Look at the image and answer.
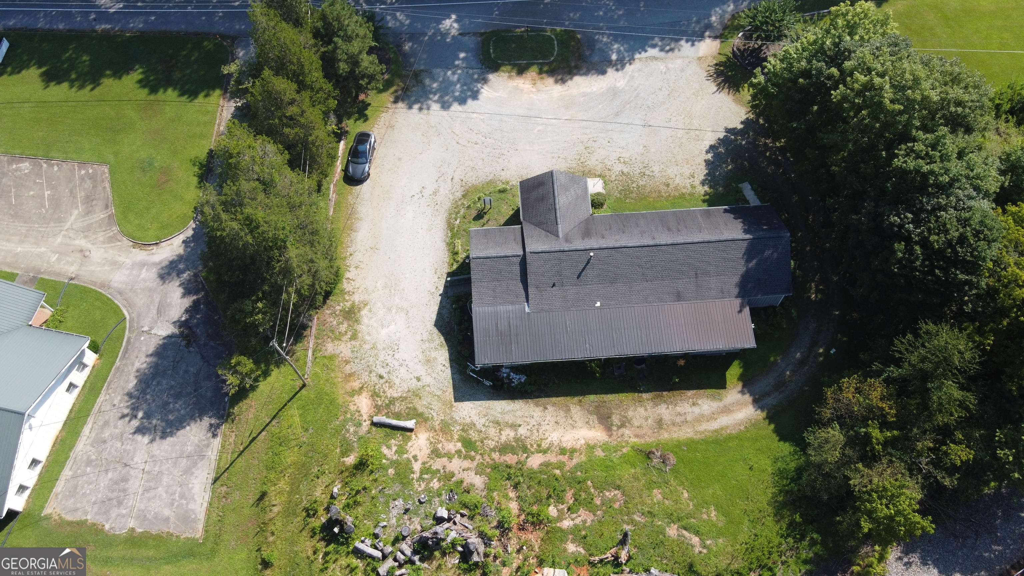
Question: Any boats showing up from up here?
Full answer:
No, the scene contains no boat.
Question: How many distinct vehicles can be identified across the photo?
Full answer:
The picture shows 1 vehicle.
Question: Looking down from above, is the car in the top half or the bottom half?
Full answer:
The top half of the photo is where the car is.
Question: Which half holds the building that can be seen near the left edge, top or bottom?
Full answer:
The bottom half of the photo is where the building that can be seen near the left edge is.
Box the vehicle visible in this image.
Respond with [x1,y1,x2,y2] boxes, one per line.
[344,125,377,179]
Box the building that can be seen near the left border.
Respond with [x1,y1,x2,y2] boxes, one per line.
[0,276,97,516]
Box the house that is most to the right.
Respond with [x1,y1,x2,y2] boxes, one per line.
[466,169,794,379]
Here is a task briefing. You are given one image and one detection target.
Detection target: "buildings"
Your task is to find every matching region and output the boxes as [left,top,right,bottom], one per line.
[466,169,794,379]
[0,276,97,516]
